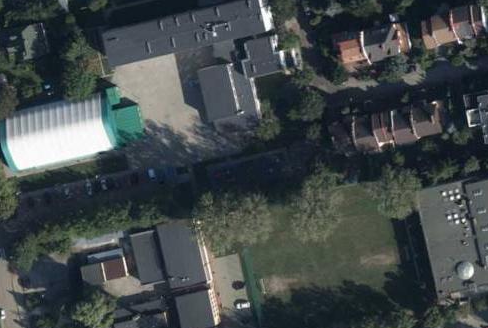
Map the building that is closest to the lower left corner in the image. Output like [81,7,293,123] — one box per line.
[81,262,107,288]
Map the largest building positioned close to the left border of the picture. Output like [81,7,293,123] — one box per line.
[1,95,120,173]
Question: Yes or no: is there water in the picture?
No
